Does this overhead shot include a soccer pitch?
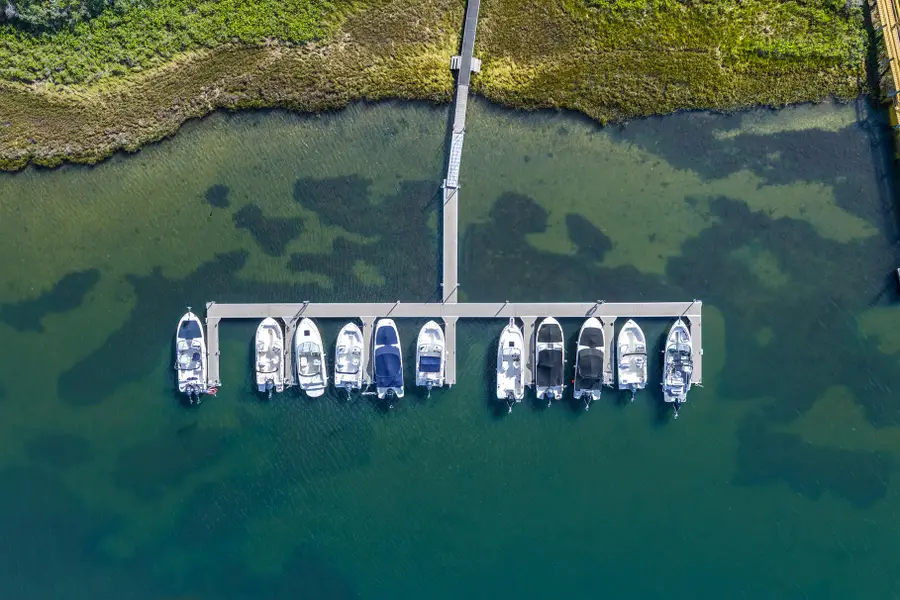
No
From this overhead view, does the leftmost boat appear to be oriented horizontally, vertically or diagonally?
vertically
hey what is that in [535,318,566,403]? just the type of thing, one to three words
boat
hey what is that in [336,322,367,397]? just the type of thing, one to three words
boat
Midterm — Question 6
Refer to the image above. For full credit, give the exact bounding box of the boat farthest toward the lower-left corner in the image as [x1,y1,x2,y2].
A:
[176,306,211,400]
